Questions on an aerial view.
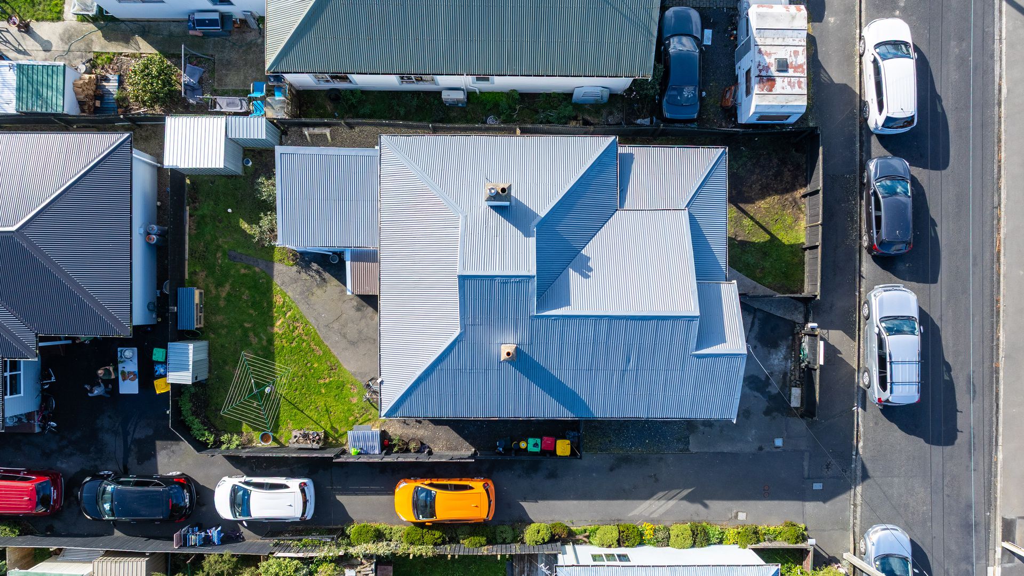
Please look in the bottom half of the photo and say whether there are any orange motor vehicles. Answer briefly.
Yes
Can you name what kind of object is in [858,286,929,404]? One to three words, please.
car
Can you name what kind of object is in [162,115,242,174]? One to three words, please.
shed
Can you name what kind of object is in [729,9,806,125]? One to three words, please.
camper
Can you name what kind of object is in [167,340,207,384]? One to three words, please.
shed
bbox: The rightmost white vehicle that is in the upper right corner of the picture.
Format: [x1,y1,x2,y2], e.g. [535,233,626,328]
[855,19,920,137]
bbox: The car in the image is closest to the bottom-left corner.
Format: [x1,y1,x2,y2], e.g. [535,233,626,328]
[0,465,70,517]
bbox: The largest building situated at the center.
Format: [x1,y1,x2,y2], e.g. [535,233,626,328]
[279,133,746,420]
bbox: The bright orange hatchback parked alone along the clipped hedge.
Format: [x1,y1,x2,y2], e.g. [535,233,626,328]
[395,474,495,529]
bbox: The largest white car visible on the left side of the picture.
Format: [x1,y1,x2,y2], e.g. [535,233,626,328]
[215,473,317,528]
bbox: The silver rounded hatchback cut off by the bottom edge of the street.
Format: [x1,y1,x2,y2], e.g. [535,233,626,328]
[854,521,914,576]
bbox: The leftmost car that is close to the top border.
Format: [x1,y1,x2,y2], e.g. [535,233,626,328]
[656,7,711,123]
